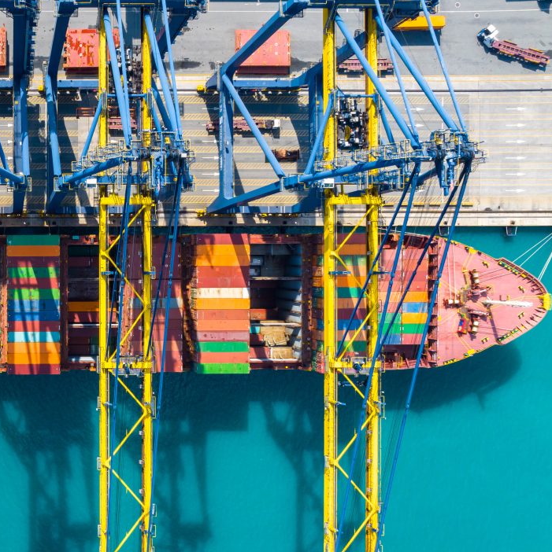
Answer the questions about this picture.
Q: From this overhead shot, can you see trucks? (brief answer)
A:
Yes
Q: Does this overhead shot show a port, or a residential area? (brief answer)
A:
port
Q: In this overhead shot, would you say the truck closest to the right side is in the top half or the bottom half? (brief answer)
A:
top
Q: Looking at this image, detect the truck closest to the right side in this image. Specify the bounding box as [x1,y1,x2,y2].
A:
[481,26,550,65]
